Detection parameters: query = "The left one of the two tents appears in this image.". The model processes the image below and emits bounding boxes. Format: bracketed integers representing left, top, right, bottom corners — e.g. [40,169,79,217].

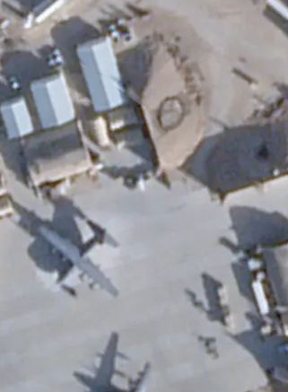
[93,115,113,147]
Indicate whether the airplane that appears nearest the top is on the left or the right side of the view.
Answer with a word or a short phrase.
left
